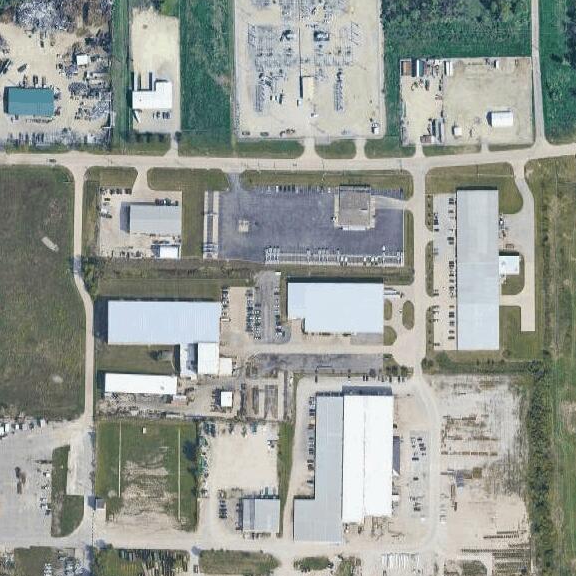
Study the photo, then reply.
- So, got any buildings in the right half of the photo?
Yes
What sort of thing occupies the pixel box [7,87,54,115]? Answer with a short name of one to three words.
shed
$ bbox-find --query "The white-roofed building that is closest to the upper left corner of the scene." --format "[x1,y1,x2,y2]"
[132,82,171,108]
